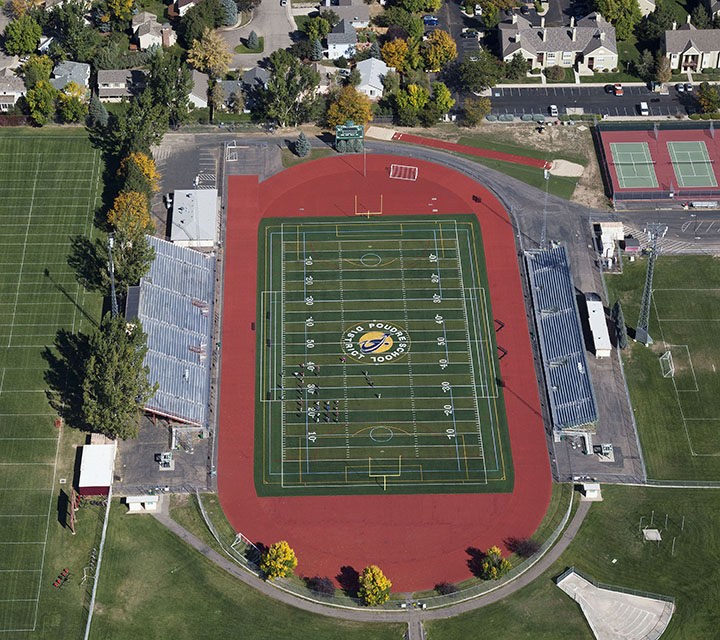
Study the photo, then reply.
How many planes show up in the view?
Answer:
zero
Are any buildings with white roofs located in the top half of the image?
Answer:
Yes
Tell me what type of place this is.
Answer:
sports ground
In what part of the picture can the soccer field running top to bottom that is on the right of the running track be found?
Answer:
right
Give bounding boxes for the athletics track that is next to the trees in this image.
[215,154,553,593]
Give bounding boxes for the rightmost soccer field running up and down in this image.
[629,252,720,478]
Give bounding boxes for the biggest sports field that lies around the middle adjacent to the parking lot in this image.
[254,213,514,497]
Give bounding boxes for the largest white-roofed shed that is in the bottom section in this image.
[79,434,116,495]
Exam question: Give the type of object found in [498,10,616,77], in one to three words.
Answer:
building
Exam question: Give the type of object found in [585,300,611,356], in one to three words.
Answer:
building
